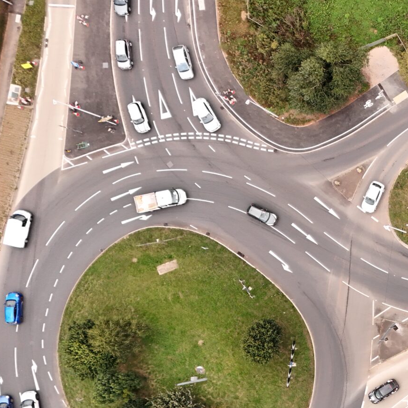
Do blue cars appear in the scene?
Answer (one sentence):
Yes, you can see a blue car in this photo.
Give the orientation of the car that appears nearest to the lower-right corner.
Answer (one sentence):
The car that appears nearest to the lower-right corner runs diagonally in the image.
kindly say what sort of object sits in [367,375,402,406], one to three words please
car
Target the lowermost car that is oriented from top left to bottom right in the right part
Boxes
[245,201,281,229]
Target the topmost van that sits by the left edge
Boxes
[0,208,32,250]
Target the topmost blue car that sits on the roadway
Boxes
[5,292,26,325]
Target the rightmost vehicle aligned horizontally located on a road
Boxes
[129,186,189,213]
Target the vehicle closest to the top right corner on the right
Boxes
[361,180,386,215]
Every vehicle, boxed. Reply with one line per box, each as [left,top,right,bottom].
[115,39,135,71]
[367,375,402,406]
[361,180,386,215]
[245,201,281,229]
[172,45,196,82]
[19,389,41,408]
[129,186,189,213]
[0,208,32,250]
[0,395,15,408]
[192,95,222,135]
[5,292,26,325]
[127,100,153,135]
